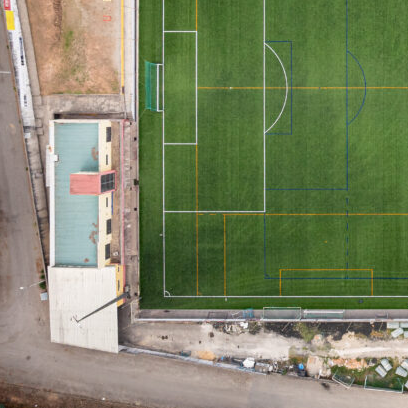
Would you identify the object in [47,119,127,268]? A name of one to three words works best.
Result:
building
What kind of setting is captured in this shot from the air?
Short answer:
sports ground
